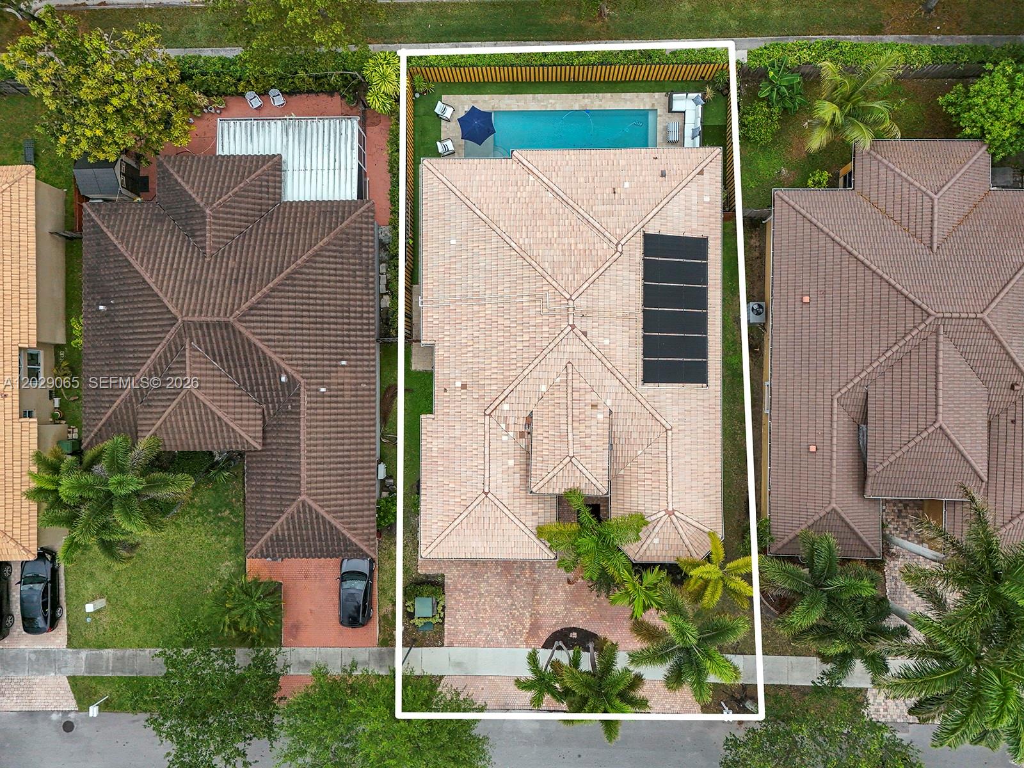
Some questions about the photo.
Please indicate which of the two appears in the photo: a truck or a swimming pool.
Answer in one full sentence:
The one in the frame is a swimming pool.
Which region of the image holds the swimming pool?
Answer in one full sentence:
Look in the top portion of the view to spot the swimming pool.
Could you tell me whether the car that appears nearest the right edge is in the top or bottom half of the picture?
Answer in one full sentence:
Seen from above, the car that appears nearest the right edge lies in the bottom half of the view.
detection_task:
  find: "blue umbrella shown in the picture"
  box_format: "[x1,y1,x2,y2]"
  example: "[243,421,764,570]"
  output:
[457,106,496,146]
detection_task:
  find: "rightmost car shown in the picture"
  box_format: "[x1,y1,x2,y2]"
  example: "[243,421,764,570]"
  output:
[330,559,372,637]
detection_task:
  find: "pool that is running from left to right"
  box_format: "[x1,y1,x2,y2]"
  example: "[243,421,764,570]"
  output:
[462,106,660,157]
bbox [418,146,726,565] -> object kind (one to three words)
house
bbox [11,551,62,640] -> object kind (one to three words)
car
